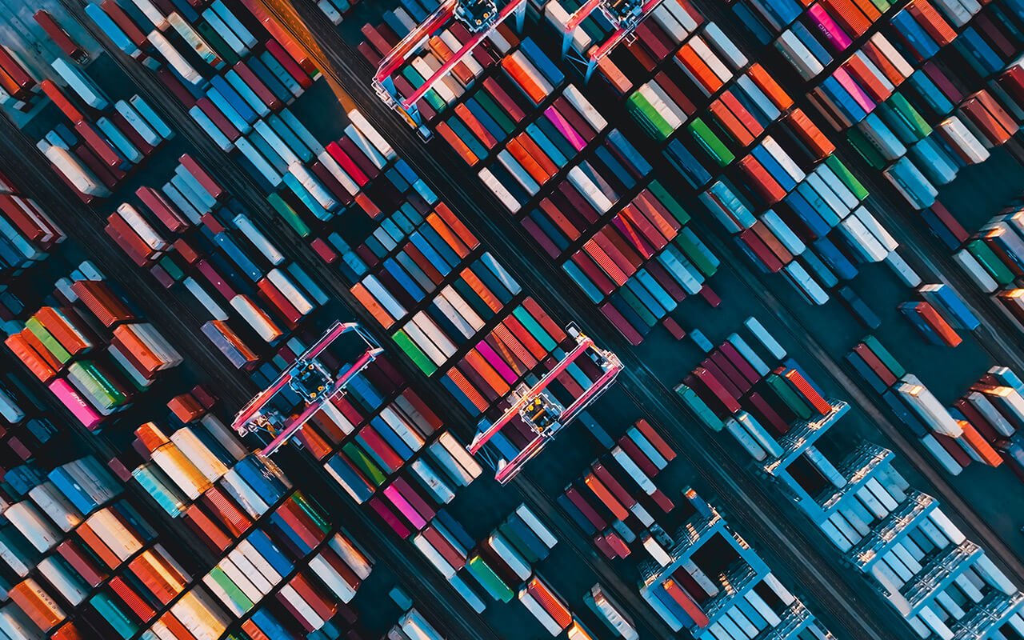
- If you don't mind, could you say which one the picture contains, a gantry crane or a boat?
gantry crane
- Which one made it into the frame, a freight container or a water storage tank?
freight container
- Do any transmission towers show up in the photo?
No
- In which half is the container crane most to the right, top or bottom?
top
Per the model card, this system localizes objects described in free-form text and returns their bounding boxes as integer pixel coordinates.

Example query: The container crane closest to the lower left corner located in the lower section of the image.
[233,317,396,470]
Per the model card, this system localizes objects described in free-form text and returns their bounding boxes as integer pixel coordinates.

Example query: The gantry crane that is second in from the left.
[372,0,525,139]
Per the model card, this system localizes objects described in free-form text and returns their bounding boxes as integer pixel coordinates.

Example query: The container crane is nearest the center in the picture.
[468,321,621,483]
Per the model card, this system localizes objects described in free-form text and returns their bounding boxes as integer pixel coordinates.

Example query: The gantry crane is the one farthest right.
[557,0,662,89]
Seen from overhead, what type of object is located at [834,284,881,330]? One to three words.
shipping container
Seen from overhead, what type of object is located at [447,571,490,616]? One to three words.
shipping container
